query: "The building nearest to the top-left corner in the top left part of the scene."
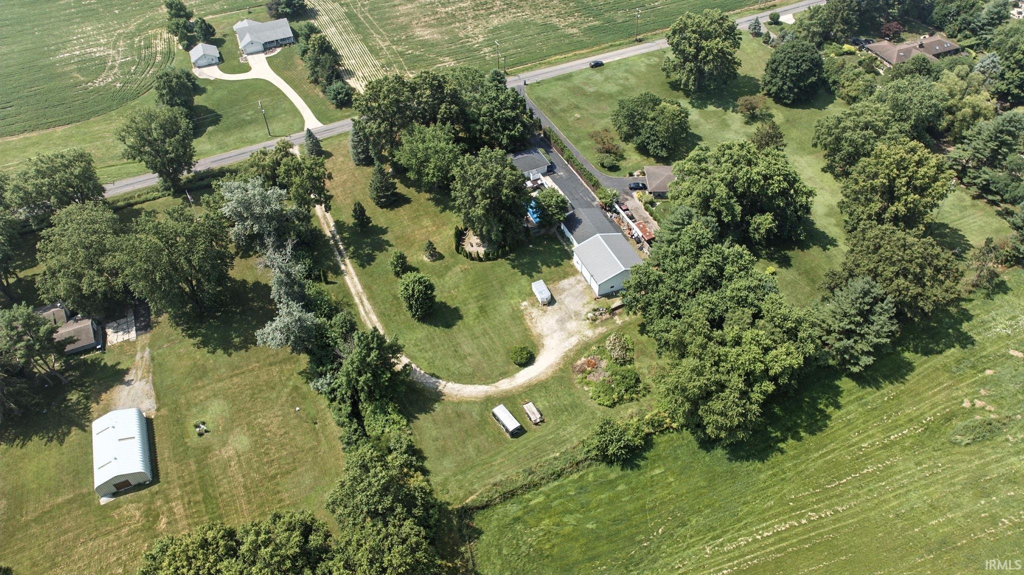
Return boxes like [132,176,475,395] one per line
[190,41,218,66]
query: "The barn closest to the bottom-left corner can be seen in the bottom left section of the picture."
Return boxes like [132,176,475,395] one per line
[92,410,152,496]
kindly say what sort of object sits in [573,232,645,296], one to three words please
building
